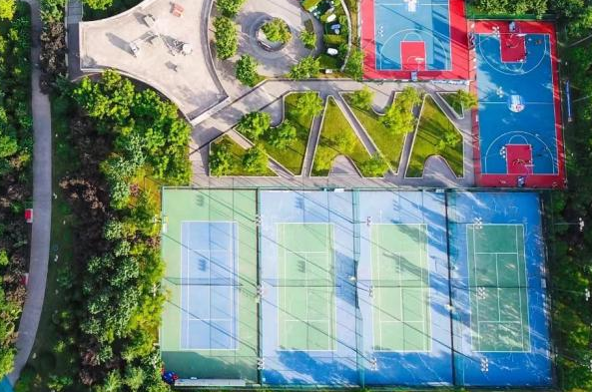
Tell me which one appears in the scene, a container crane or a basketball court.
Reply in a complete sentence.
The image shows a basketball court.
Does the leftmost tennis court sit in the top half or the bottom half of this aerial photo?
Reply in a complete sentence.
You can find the leftmost tennis court in the bottom half.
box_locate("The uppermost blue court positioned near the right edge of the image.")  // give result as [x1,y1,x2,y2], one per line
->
[471,21,568,189]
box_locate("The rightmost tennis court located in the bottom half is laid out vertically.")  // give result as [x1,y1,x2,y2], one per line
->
[450,193,552,387]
